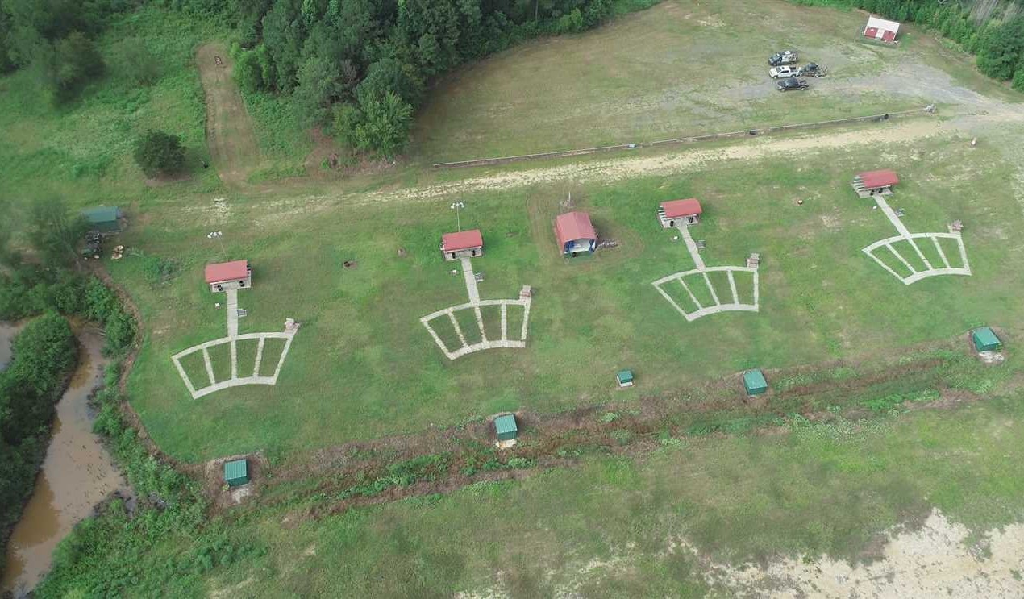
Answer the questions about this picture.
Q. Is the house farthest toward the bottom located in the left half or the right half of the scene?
left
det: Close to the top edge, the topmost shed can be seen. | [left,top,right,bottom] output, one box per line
[864,19,901,42]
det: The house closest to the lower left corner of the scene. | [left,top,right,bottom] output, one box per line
[227,457,249,483]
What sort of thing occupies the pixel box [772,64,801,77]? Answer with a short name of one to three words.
vehicle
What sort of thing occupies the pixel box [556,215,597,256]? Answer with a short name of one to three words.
shed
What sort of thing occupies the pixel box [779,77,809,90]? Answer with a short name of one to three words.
vehicle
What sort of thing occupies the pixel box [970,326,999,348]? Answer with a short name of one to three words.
house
